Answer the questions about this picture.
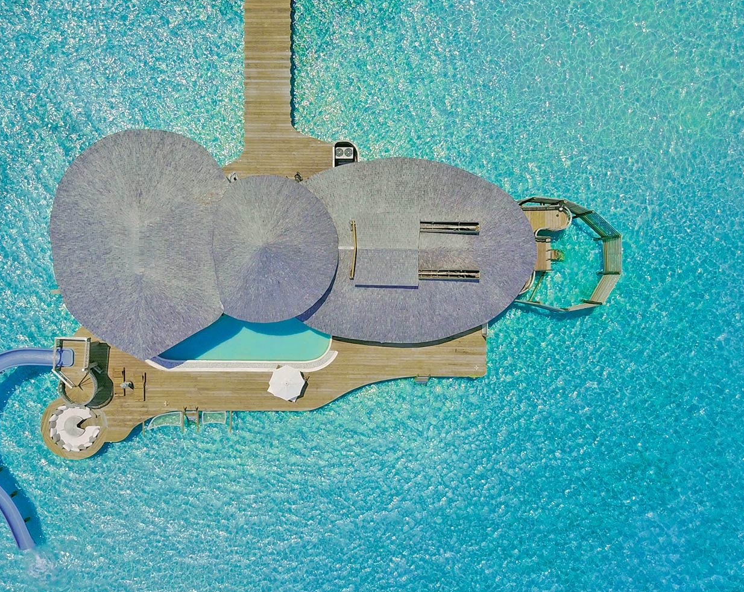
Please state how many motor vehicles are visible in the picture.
0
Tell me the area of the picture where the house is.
center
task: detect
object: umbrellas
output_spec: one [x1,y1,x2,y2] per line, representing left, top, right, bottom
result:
[270,365,305,400]
[121,381,134,390]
